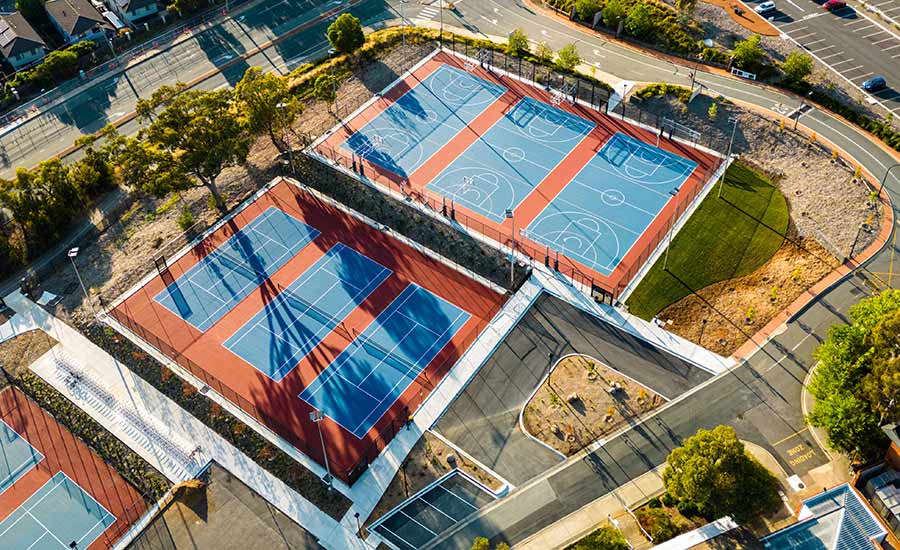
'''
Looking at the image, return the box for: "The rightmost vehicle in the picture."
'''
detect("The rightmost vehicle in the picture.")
[863,76,887,92]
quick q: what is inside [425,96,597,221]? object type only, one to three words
basketball court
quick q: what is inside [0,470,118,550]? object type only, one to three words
tennis court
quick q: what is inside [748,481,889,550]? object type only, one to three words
building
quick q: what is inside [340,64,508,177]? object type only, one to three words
basketball court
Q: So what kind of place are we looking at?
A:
sports ground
